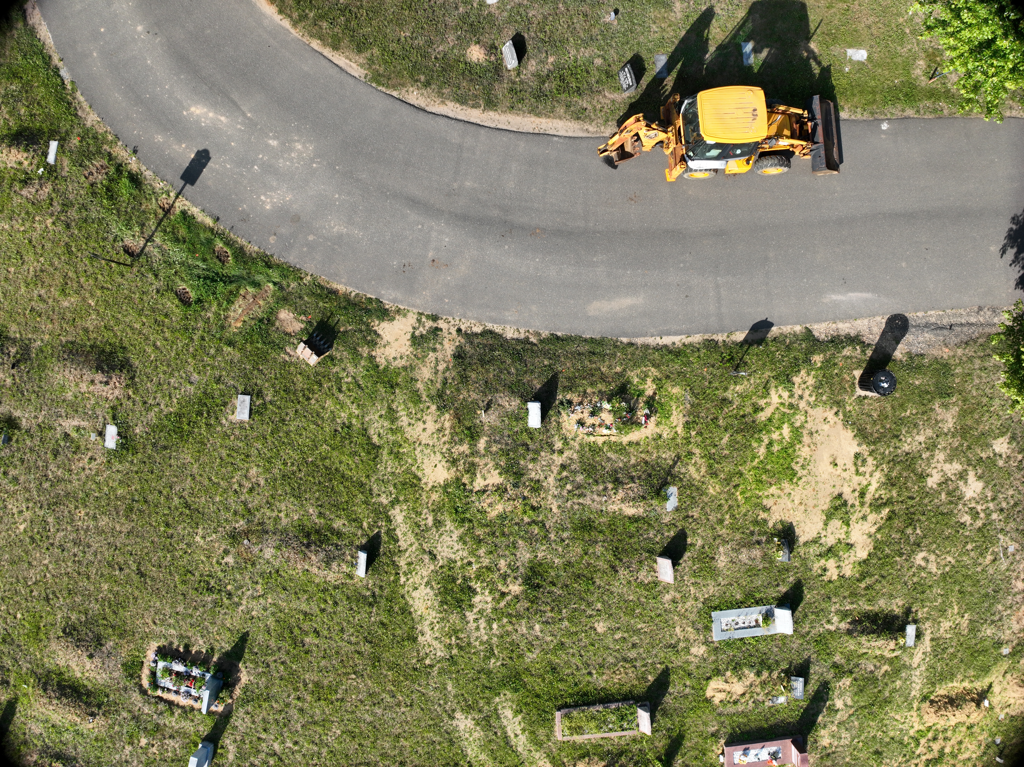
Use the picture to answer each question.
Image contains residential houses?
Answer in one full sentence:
No, there is no residential house in the image.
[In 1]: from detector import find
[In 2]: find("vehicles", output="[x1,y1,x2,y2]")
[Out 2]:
[596,85,840,189]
